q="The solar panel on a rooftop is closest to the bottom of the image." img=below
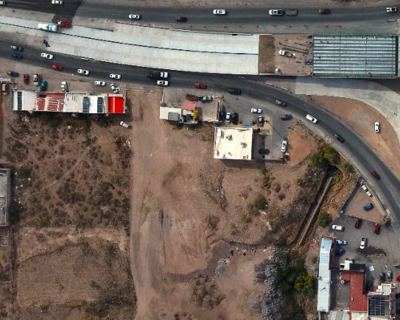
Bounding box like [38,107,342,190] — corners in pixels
[369,297,384,317]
